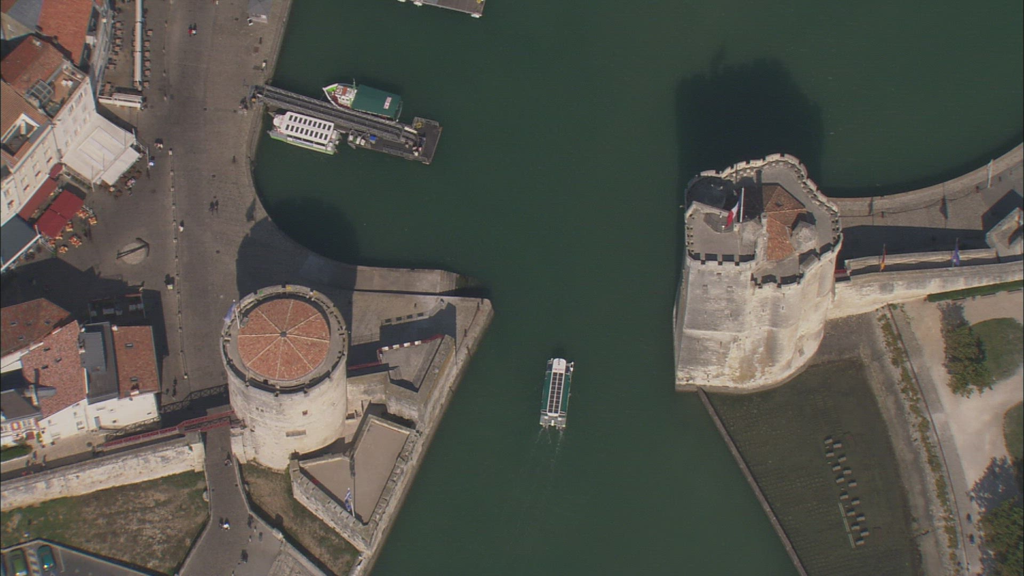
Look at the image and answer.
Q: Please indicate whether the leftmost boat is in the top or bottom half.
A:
top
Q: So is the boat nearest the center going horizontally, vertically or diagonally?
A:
vertically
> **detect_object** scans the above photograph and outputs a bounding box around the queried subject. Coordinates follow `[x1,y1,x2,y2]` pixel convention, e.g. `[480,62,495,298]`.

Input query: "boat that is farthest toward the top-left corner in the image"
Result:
[267,115,342,159]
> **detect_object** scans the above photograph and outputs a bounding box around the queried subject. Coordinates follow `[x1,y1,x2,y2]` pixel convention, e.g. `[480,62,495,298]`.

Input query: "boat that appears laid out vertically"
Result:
[539,356,572,430]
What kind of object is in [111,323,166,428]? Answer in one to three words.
house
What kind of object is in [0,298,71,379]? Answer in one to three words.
house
